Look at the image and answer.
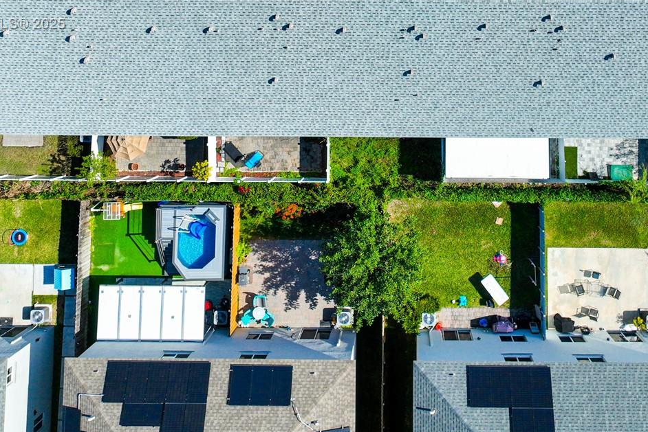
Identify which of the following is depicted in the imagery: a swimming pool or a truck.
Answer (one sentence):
Looking from above, you can make out a swimming pool.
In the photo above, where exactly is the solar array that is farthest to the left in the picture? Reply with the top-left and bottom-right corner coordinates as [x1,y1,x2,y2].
[62,406,81,432]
